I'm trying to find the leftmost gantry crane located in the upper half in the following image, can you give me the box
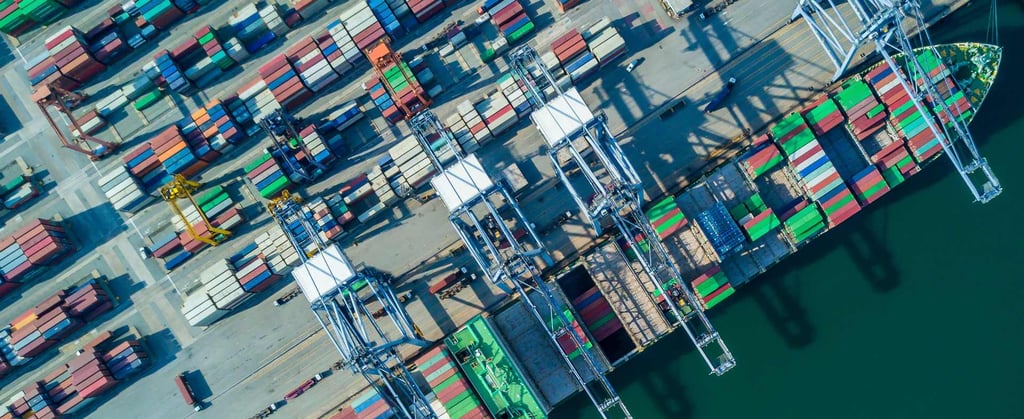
[27,83,117,161]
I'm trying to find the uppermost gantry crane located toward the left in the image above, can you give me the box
[363,38,433,117]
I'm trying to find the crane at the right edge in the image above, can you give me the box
[782,0,1004,202]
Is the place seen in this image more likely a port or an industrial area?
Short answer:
port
